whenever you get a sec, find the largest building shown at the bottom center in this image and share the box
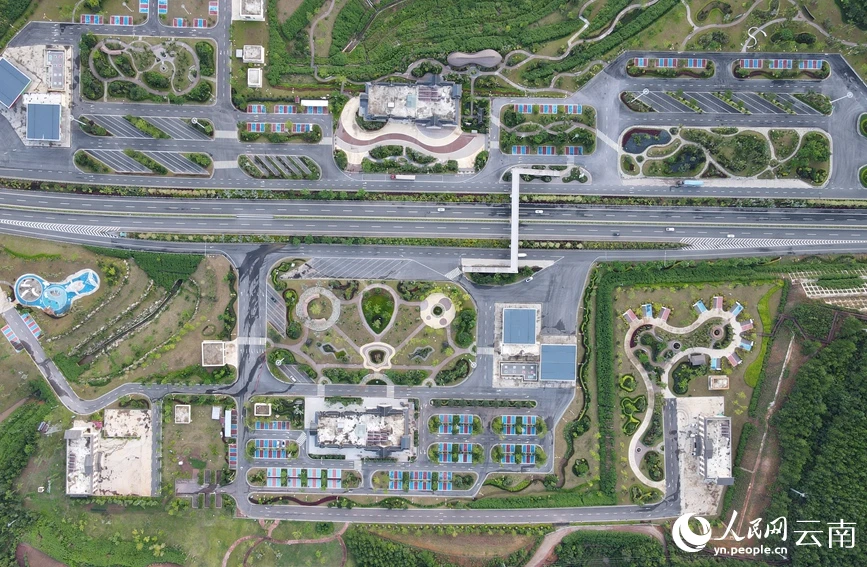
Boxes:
[310,404,410,459]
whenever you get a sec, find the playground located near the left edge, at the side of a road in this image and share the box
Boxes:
[14,268,100,317]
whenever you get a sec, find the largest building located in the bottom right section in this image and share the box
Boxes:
[692,413,734,484]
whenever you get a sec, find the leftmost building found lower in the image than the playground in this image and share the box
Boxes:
[64,421,103,496]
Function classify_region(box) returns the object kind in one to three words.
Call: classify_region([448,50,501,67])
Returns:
building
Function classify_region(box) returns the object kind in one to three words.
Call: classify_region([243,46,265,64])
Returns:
house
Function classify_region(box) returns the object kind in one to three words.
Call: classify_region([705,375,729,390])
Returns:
house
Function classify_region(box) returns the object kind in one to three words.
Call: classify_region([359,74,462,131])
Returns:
building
